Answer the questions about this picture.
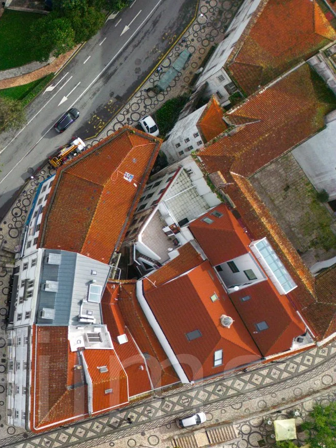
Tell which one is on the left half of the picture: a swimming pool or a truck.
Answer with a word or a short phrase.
truck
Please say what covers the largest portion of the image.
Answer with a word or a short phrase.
buildings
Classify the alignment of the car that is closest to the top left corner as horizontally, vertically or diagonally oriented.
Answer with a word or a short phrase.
diagonally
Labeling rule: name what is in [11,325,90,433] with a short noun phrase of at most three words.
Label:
house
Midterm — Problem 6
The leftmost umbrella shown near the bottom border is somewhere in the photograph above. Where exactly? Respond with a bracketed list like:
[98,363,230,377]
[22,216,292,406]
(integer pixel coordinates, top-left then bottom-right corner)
[270,418,294,441]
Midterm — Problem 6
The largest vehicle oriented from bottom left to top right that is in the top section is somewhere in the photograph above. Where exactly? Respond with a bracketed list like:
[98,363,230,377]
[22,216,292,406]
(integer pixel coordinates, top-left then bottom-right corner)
[47,135,88,170]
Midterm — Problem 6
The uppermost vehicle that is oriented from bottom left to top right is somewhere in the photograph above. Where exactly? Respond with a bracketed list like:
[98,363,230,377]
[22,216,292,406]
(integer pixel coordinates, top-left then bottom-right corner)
[52,107,78,135]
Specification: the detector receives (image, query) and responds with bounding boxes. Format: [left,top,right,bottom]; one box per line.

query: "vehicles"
[138,112,158,137]
[176,412,205,429]
[47,135,88,170]
[52,107,78,135]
